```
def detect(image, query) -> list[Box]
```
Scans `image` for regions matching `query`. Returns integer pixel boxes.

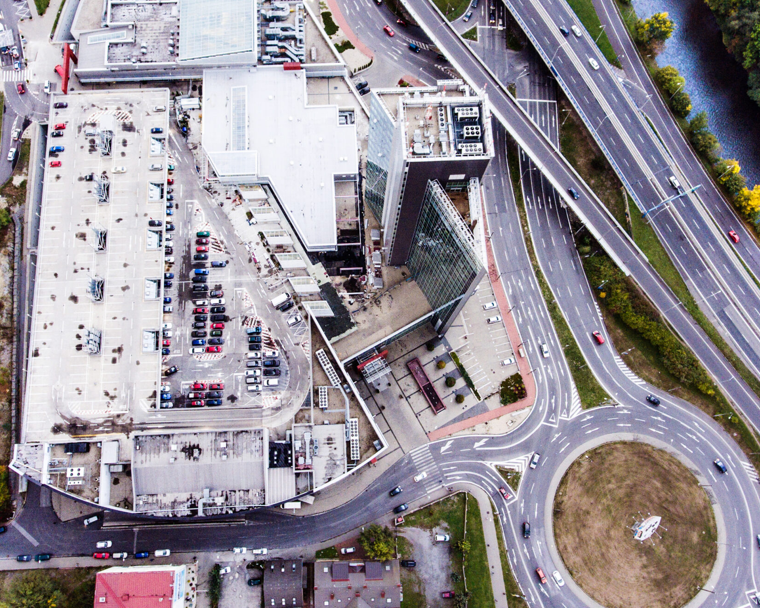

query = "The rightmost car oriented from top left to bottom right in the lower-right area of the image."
[714,458,728,474]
